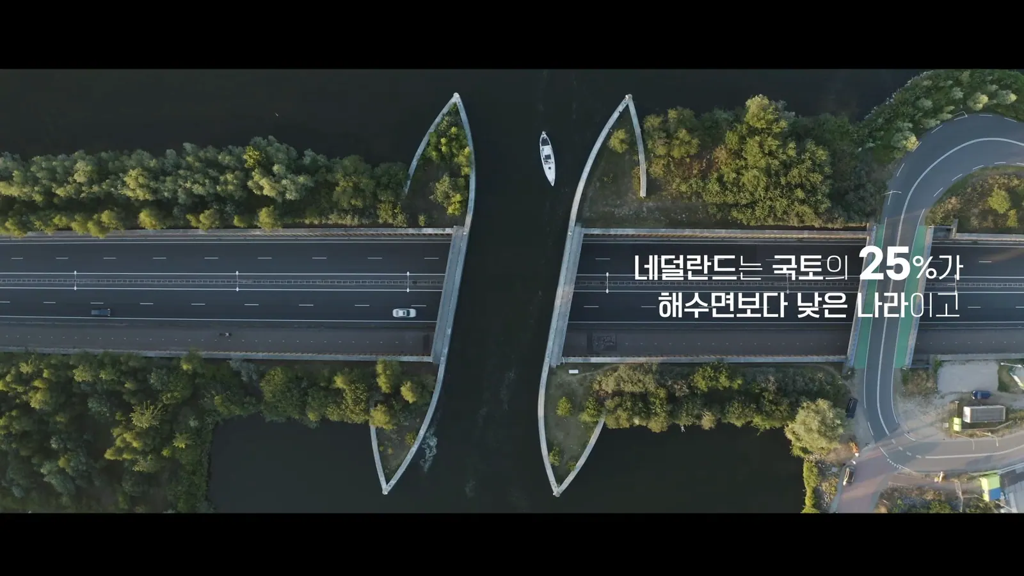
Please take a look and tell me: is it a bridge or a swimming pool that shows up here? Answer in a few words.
bridge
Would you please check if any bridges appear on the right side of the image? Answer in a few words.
Yes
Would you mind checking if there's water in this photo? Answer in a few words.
Yes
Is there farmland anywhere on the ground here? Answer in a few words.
No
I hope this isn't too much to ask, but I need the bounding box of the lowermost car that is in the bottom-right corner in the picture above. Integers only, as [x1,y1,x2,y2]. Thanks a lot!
[842,465,855,485]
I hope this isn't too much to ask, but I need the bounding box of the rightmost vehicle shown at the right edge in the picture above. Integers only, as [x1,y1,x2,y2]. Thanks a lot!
[970,389,993,401]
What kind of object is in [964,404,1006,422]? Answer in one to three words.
building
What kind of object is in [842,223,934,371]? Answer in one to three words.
bridge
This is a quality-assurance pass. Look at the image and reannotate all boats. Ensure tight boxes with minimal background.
[539,130,556,186]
